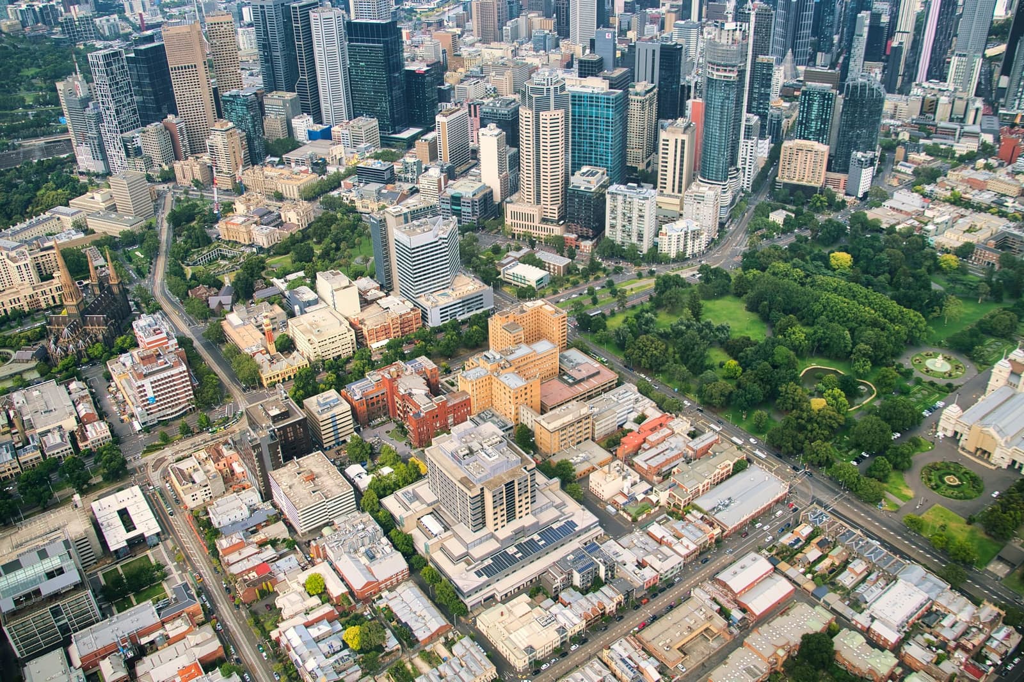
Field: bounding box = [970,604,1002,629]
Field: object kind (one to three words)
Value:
house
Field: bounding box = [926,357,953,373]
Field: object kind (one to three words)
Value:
fountain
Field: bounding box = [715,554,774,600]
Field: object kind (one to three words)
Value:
shed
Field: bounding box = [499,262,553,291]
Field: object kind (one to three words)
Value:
building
